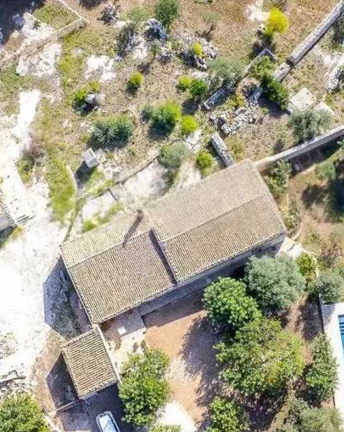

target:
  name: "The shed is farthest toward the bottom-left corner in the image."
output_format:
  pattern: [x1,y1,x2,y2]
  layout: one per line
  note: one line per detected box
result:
[61,324,121,400]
